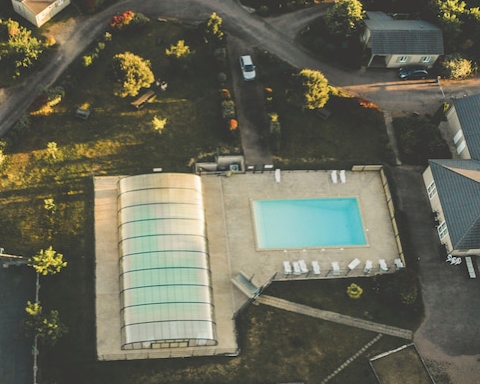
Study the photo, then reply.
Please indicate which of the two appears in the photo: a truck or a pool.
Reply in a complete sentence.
The image shows a pool.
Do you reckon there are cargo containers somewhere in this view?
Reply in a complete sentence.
No, the scene contains no cargo container.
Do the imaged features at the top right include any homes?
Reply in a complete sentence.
Yes, you'll find a home at the top right.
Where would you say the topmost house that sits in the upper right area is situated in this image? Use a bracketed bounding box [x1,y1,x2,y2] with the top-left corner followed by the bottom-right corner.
[362,12,446,66]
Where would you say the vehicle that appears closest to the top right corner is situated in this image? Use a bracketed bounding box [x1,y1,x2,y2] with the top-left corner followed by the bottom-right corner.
[398,65,430,82]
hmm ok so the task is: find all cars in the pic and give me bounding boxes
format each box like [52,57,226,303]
[398,65,430,82]
[239,53,258,83]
